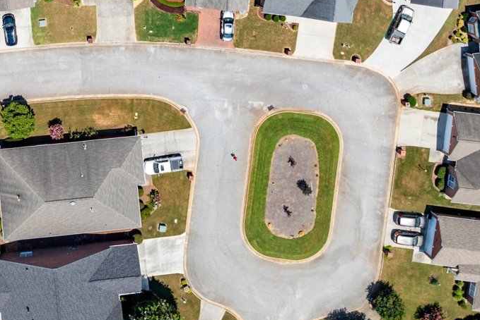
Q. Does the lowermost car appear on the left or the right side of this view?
right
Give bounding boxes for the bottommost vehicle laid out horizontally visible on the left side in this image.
[143,153,185,175]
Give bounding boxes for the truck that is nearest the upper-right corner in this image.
[385,2,415,45]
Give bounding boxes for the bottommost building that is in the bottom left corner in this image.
[0,238,141,320]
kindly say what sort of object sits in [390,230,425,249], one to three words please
car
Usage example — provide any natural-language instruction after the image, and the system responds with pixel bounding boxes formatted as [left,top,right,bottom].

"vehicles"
[1,14,18,47]
[390,230,425,249]
[391,211,426,231]
[385,2,415,45]
[220,11,236,43]
[143,153,185,175]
